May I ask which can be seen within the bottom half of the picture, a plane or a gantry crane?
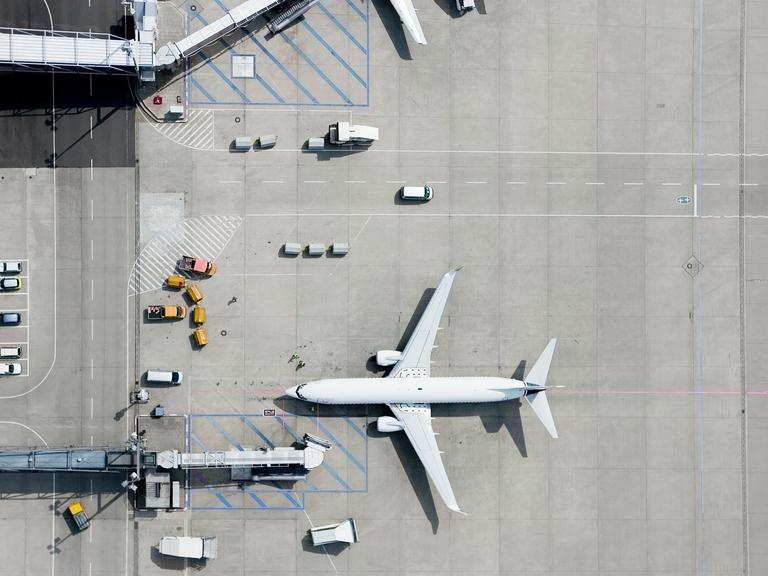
plane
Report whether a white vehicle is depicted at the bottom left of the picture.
Yes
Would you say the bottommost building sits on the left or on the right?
left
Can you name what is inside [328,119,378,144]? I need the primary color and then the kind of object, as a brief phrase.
white truck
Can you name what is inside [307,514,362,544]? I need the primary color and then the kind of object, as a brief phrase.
white truck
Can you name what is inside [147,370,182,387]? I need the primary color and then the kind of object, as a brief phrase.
white vehicle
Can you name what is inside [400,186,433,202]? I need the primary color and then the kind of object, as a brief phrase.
white vehicle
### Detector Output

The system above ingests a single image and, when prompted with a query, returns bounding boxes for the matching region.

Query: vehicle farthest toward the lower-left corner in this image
[66,502,92,534]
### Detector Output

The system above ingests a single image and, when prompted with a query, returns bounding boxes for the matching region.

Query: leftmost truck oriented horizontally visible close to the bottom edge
[160,536,219,564]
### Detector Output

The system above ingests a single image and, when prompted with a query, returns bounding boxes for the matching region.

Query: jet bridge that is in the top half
[155,0,316,75]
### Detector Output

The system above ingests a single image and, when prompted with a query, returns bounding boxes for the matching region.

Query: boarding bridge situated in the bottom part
[158,434,332,488]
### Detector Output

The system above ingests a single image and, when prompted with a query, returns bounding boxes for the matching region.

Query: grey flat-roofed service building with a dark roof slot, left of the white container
[146,473,171,508]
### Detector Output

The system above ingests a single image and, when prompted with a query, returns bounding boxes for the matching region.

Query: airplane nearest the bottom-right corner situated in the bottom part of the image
[286,265,566,514]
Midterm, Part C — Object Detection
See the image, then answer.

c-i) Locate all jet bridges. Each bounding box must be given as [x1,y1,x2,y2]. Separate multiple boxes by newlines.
[158,434,332,488]
[155,0,316,75]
